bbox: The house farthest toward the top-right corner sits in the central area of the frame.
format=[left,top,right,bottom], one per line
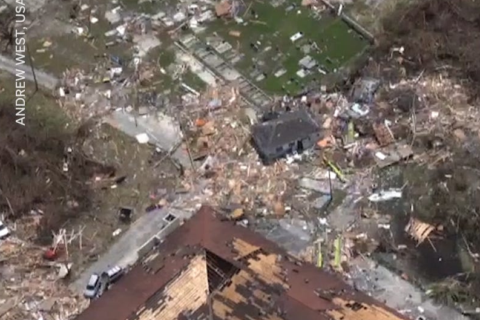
[249,106,323,161]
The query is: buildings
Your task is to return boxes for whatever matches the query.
[249,106,323,161]
[75,205,415,320]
